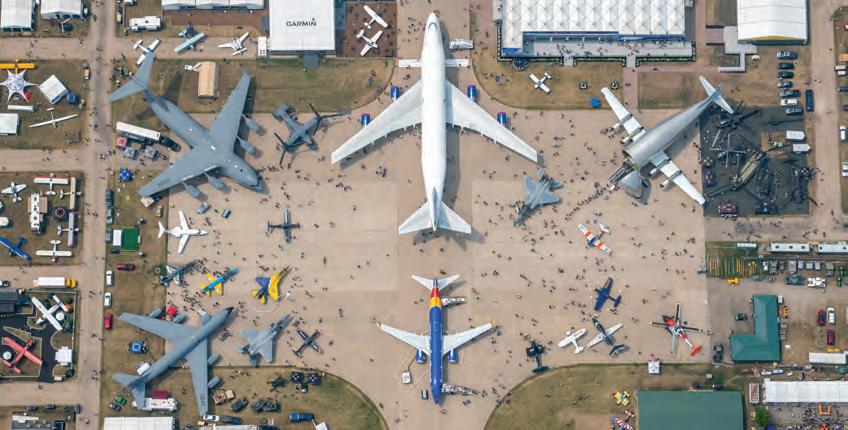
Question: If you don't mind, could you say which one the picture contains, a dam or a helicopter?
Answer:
helicopter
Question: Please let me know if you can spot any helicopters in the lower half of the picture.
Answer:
Yes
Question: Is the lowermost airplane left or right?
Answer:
right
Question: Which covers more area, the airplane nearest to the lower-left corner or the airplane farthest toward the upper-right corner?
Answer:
the airplane farthest toward the upper-right corner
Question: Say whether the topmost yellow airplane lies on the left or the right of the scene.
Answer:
left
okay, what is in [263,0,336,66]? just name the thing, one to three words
building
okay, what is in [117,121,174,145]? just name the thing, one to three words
truck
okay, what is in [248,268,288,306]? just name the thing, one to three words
airplane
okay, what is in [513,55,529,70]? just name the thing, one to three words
gazebo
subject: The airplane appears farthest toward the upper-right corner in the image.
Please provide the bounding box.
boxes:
[605,78,728,202]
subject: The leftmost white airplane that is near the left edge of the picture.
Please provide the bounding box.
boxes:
[0,181,26,202]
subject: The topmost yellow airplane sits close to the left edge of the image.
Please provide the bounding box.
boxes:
[0,58,34,80]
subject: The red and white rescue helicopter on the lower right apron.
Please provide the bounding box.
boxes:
[650,302,702,355]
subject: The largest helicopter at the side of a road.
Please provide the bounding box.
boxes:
[709,130,785,201]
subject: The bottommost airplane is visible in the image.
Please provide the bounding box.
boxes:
[610,409,634,430]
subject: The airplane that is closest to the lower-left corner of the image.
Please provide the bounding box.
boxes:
[2,336,43,375]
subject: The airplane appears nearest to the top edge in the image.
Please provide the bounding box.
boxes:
[363,4,389,30]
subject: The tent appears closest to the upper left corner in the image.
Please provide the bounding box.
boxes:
[1,0,36,31]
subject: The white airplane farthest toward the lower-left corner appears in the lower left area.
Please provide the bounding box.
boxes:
[32,296,67,332]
